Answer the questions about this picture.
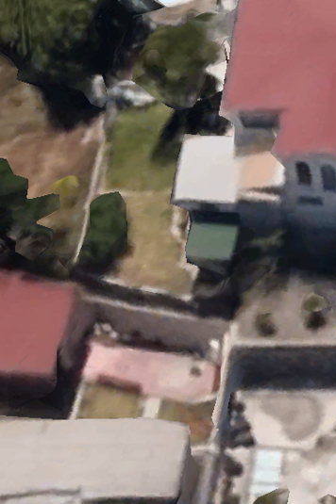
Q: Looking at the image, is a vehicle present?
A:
No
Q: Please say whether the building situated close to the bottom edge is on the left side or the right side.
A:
left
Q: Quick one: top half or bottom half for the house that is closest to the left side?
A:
bottom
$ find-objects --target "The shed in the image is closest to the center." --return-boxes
[187,224,242,274]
